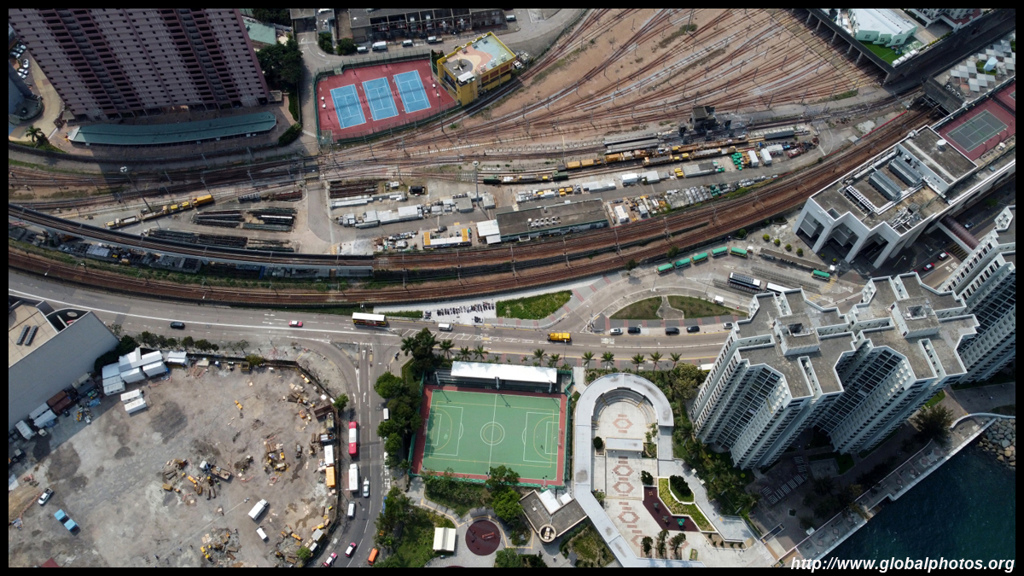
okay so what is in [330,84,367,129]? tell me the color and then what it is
blue tennis court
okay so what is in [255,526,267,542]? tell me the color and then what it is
white vehicle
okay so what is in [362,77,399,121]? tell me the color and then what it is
blue tennis court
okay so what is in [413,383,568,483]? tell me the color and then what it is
green soccer field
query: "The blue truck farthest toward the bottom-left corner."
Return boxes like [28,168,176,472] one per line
[52,509,76,533]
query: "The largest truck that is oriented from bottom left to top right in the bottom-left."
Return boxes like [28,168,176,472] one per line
[246,497,268,521]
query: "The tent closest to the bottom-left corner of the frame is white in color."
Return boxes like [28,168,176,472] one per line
[433,527,456,552]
